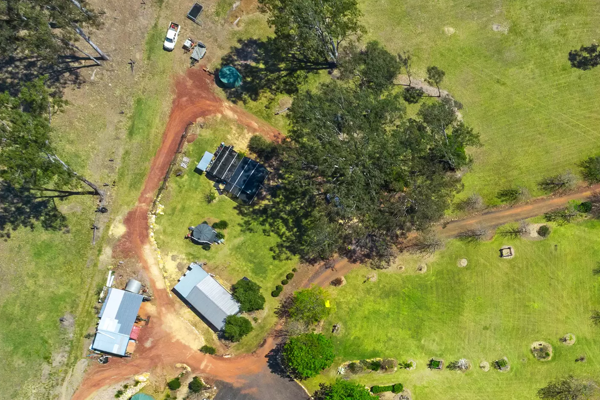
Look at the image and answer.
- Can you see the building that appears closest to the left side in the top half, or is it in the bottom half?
bottom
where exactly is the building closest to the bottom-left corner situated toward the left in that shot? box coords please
[93,288,151,356]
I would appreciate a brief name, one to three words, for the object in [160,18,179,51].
vehicle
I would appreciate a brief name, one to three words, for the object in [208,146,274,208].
house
